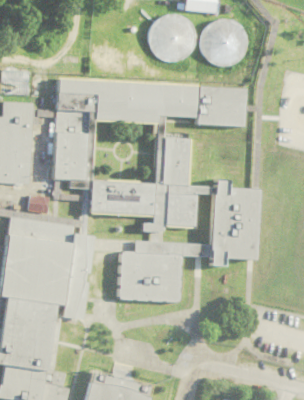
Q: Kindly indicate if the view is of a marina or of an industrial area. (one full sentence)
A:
The area seen from above is an industrial area.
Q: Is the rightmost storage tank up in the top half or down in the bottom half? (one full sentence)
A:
The top half of the photo is where the rightmost storage tank is.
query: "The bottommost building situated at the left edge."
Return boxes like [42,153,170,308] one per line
[0,367,71,400]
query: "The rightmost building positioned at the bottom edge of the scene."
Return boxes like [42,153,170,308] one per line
[86,369,154,400]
